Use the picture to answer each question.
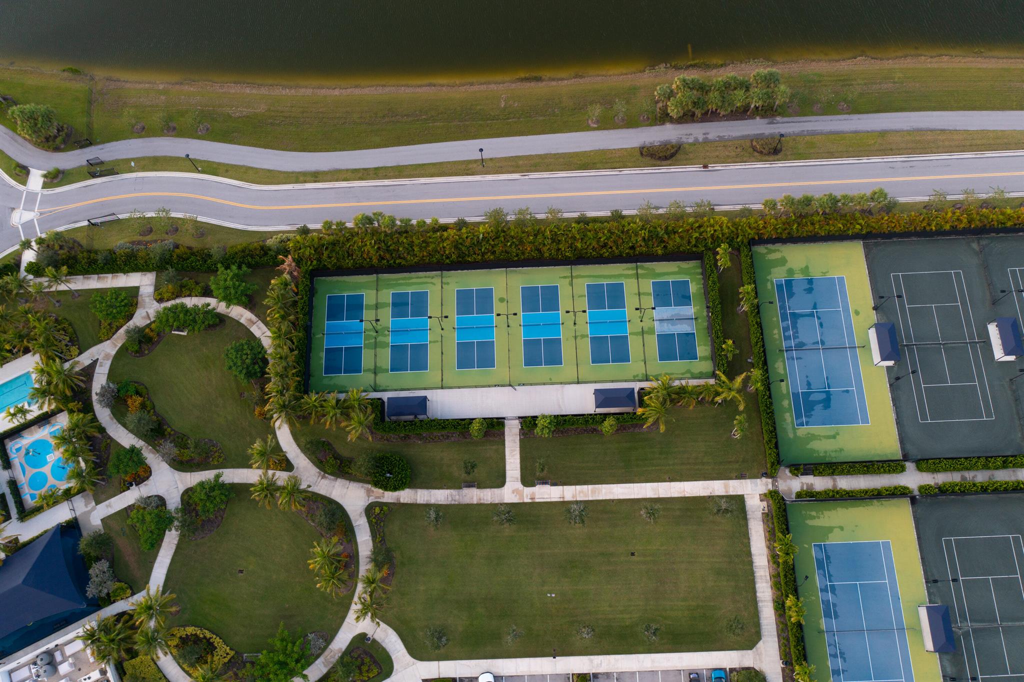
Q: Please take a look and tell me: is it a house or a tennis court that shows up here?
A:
tennis court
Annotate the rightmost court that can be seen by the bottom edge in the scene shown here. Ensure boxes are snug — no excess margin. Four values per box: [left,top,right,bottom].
[908,494,1024,682]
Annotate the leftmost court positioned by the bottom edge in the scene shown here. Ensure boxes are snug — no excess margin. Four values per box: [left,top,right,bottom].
[791,498,941,682]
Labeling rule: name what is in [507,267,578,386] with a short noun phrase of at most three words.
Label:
sports court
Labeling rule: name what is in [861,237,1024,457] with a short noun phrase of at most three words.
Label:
tennis court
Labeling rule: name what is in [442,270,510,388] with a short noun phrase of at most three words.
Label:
sports court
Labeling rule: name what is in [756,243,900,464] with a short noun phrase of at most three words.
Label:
tennis court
